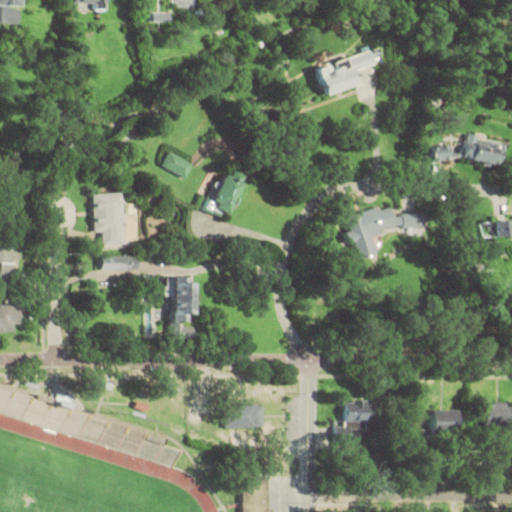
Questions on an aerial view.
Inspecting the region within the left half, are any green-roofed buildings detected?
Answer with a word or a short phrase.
Yes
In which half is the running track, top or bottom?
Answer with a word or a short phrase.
bottom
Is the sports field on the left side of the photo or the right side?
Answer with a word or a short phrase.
left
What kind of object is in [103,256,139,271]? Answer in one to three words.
building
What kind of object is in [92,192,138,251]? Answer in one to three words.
house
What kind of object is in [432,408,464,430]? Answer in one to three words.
house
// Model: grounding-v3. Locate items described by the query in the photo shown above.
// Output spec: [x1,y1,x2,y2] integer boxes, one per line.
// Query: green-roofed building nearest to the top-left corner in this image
[162,151,193,179]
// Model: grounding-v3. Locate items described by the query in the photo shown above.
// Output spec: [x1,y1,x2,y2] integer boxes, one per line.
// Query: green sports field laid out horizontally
[0,429,202,512]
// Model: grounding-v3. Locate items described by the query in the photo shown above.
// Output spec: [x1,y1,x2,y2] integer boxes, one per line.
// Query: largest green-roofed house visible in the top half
[218,171,246,213]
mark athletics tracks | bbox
[0,412,221,512]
